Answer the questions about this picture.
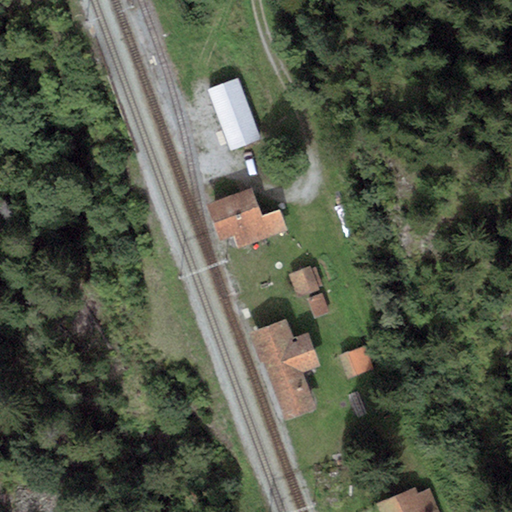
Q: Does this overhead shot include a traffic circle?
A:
No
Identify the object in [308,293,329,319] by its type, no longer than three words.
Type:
shed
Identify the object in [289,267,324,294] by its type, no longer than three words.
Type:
barn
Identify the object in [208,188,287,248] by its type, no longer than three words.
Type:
house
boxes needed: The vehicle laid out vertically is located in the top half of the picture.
[245,149,258,176]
